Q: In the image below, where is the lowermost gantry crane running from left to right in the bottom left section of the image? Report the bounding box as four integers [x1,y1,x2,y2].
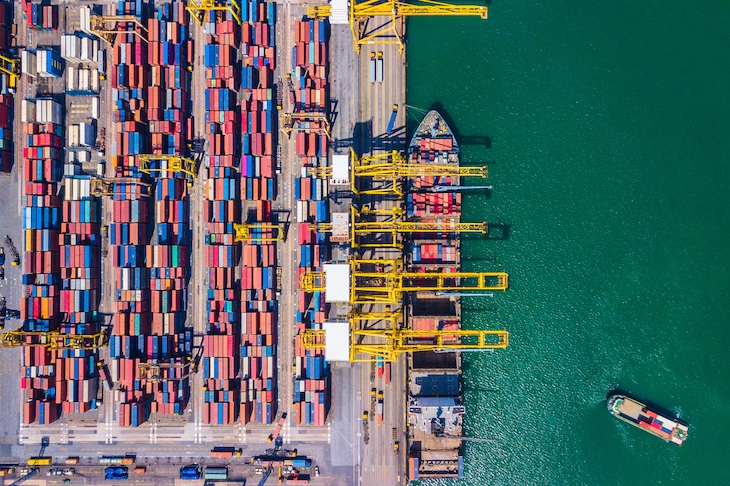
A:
[138,354,196,381]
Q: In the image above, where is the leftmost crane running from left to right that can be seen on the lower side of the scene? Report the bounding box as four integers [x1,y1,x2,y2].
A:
[0,326,61,348]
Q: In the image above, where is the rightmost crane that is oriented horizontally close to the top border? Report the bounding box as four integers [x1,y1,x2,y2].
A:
[305,0,488,59]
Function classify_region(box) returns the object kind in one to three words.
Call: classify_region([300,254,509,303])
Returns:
container crane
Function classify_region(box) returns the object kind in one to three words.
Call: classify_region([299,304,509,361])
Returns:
container crane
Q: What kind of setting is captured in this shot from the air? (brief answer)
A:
port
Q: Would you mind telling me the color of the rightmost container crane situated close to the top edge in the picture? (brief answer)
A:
yellow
